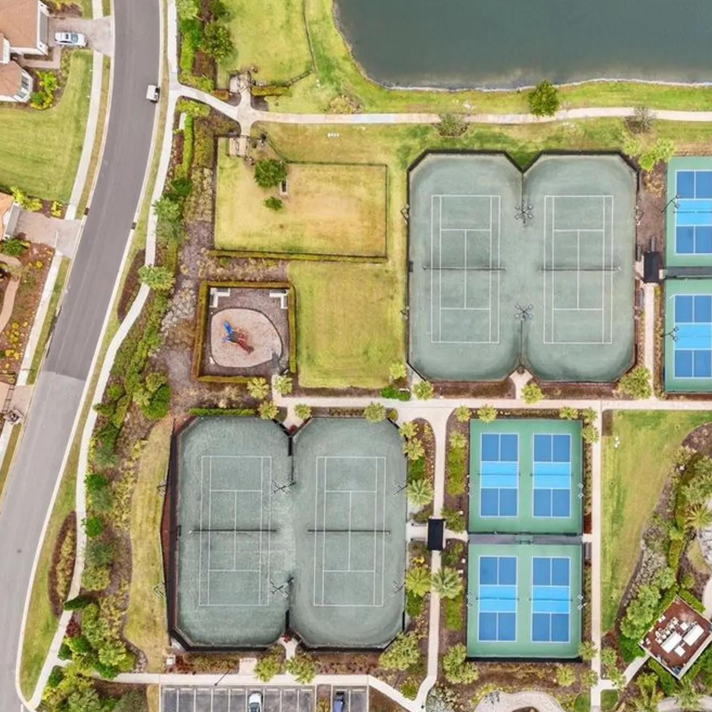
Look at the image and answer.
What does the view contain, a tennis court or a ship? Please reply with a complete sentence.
Of the two, only a tennis court appears.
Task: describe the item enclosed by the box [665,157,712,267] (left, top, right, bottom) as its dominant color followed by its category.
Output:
blue sports court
